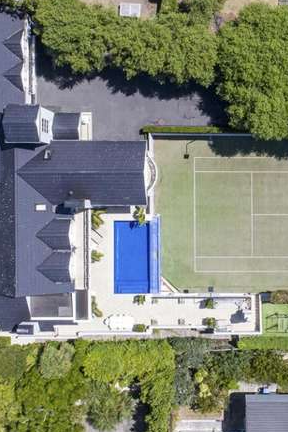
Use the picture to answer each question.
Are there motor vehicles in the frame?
No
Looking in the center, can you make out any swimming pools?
Yes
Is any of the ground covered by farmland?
No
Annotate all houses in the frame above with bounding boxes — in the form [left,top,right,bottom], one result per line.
[0,7,162,345]
[180,370,288,432]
